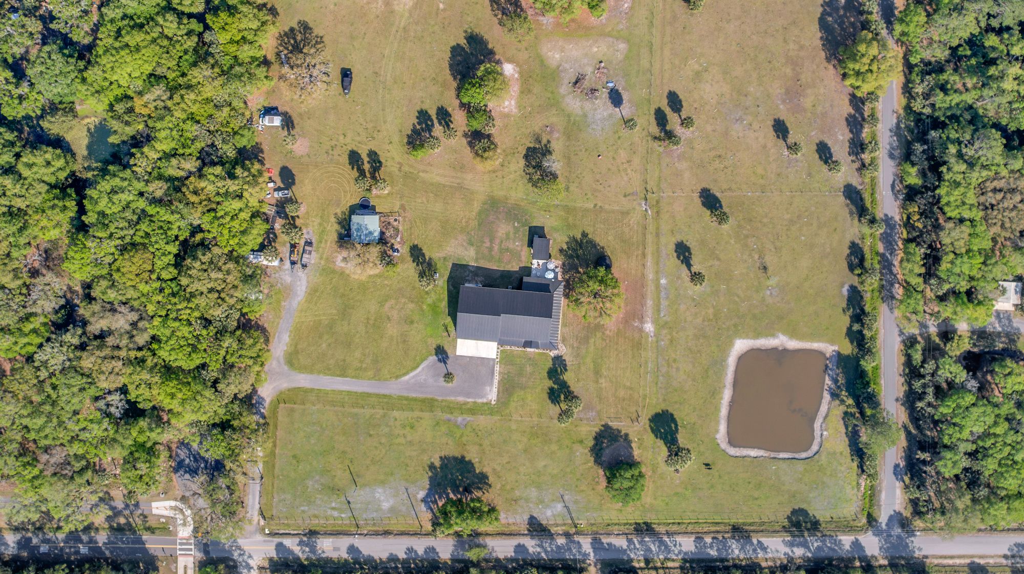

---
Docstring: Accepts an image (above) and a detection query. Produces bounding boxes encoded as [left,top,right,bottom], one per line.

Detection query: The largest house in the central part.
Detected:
[456,277,564,351]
